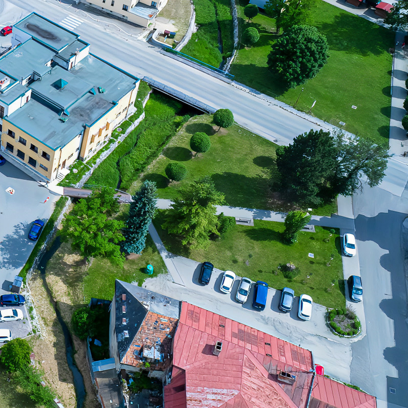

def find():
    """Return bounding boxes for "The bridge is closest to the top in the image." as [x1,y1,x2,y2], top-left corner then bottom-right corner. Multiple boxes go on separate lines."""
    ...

[142,36,236,113]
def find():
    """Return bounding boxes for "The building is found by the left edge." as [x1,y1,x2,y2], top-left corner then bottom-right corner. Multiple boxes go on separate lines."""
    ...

[0,10,140,183]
